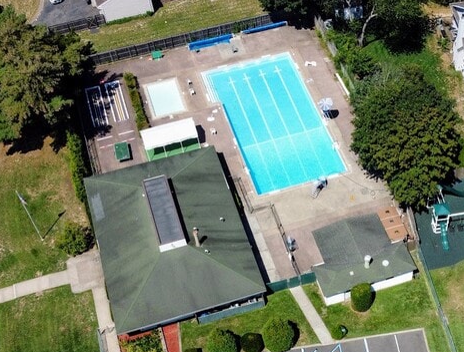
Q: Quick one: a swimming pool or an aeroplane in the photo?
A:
swimming pool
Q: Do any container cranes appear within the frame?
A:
No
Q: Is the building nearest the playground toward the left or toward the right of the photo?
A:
right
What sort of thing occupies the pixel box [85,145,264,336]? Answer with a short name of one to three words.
building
